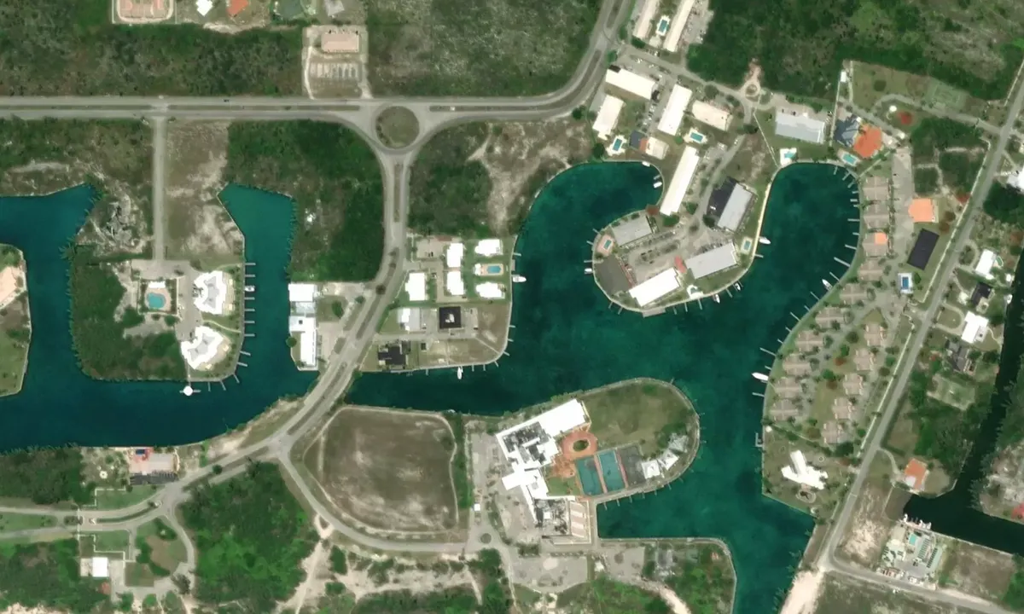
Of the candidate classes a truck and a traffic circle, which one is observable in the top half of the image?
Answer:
traffic circle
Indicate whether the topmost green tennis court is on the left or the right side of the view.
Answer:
right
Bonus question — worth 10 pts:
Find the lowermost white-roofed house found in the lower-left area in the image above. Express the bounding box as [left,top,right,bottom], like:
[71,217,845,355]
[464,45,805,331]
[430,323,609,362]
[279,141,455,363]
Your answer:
[92,557,109,577]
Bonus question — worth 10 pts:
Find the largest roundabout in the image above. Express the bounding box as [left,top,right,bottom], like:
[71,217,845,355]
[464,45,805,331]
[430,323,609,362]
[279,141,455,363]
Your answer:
[368,97,427,157]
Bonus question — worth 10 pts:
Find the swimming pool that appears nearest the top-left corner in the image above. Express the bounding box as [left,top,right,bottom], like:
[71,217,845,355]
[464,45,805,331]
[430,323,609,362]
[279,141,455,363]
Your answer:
[145,289,171,312]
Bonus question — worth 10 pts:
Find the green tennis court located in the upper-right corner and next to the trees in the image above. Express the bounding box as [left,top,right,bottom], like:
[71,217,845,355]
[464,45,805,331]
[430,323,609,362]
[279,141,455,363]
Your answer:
[923,78,968,113]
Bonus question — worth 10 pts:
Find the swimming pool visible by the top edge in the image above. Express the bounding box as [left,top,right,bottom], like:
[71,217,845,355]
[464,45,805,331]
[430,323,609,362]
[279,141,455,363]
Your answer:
[657,16,671,35]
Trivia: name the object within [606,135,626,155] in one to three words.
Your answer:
swimming pool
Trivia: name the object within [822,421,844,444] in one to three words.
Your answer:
house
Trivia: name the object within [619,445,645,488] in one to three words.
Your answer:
tennis court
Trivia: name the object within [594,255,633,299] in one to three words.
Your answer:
building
